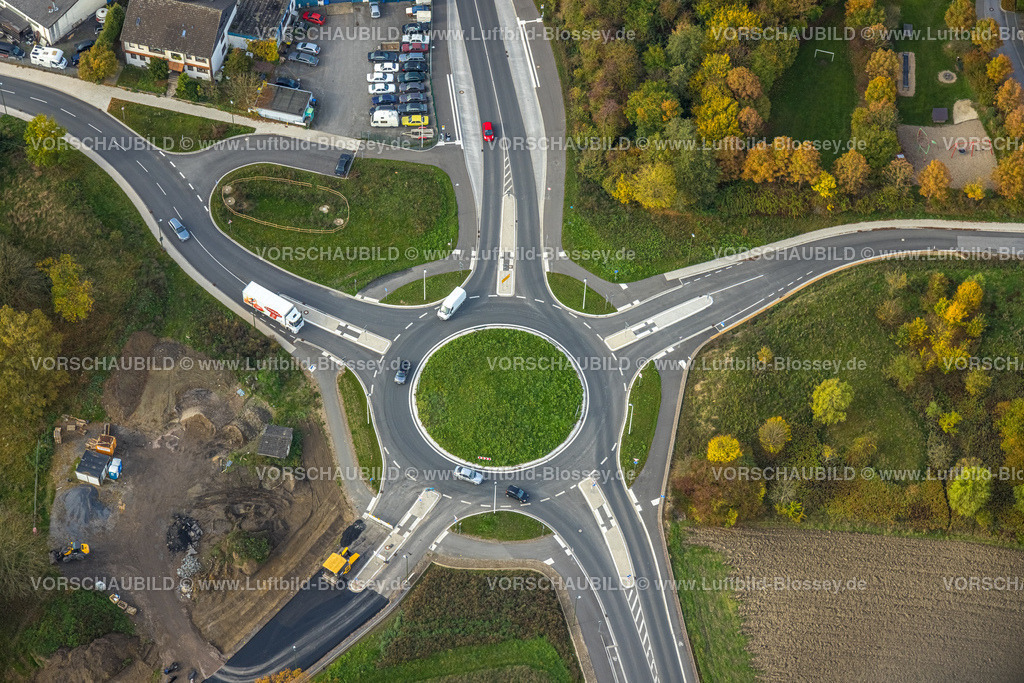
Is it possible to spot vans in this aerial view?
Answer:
Yes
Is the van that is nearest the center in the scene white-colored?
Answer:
Yes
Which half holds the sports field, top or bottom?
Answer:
top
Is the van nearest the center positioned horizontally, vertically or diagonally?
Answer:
diagonally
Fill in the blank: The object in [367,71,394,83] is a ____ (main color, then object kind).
white vehicle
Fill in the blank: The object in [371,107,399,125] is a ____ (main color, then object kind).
white vehicle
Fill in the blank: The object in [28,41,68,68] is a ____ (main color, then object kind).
white camper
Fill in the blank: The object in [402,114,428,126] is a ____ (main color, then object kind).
yellow vehicle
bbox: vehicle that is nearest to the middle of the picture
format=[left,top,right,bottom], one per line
[435,283,467,317]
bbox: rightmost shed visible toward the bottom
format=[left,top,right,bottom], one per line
[257,425,293,461]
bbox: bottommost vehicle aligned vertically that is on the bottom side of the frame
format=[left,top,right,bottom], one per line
[94,415,114,454]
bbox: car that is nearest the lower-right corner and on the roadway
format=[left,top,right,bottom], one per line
[504,483,532,504]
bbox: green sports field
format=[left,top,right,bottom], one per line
[765,0,879,200]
